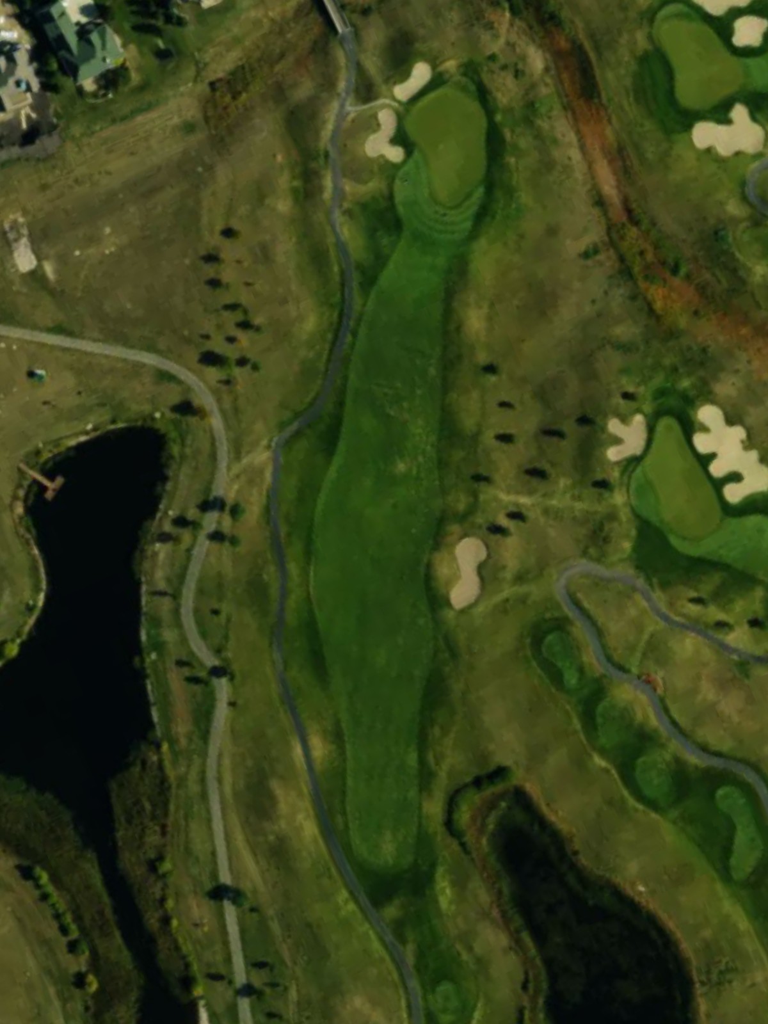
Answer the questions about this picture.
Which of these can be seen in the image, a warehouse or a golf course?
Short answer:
golf course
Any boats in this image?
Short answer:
No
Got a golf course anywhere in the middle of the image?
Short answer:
Yes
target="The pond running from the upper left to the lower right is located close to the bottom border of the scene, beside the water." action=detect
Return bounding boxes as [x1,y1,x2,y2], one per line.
[493,784,701,1024]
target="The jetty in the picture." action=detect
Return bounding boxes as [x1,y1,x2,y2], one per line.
[18,462,66,502]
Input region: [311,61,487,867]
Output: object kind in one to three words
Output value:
golf course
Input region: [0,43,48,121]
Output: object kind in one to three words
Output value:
house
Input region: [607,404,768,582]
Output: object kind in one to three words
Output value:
golf course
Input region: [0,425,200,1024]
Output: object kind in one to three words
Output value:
pond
